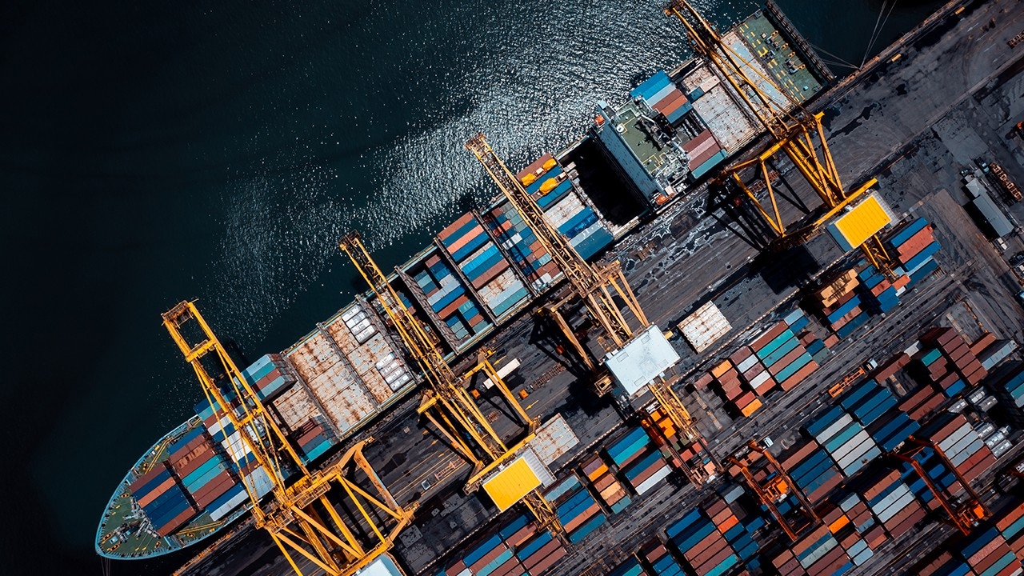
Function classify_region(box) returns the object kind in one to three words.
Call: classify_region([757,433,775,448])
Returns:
vehicle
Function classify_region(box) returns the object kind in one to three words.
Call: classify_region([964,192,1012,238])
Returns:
shed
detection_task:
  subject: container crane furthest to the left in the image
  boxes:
[158,290,429,576]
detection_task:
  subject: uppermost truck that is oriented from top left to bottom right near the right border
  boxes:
[971,155,998,185]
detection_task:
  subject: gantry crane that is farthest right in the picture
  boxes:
[882,439,996,539]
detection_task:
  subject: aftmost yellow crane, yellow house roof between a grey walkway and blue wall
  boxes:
[663,0,914,302]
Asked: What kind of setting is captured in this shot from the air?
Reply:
port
